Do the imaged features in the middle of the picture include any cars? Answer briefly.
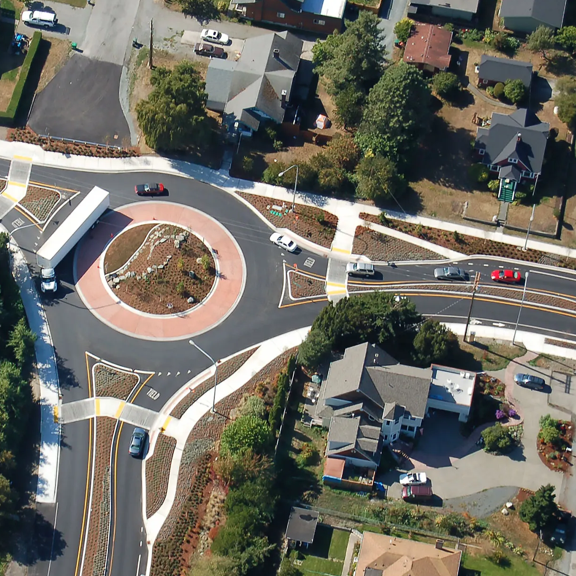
Yes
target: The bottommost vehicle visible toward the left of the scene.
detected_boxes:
[130,430,146,457]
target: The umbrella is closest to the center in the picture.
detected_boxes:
[308,372,325,388]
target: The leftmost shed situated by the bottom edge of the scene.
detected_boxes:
[287,507,320,551]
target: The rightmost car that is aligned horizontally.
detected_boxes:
[513,373,546,390]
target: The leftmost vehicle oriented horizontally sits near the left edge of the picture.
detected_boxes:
[23,12,57,27]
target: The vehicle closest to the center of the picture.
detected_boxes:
[268,233,301,255]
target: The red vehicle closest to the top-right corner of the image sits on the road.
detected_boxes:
[491,270,521,284]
